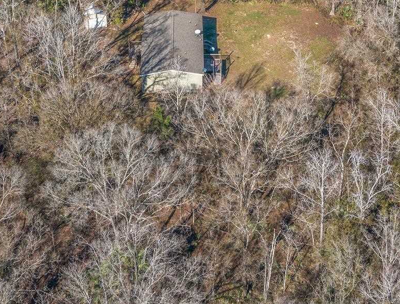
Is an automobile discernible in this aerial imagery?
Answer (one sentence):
No, the scene contains no automobile.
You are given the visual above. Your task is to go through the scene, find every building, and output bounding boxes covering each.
[139,10,203,90]
[87,1,109,29]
